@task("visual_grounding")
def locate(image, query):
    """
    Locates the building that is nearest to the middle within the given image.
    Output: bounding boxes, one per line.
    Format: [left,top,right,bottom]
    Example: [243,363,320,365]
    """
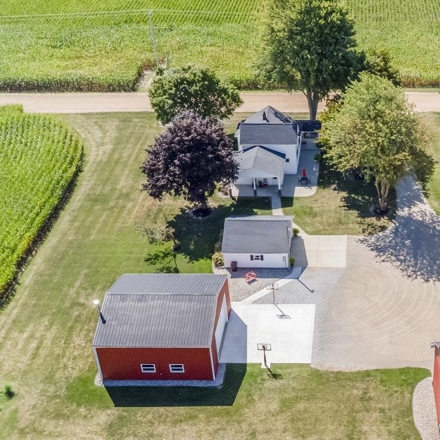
[220,216,294,268]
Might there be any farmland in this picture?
Yes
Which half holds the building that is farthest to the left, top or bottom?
bottom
